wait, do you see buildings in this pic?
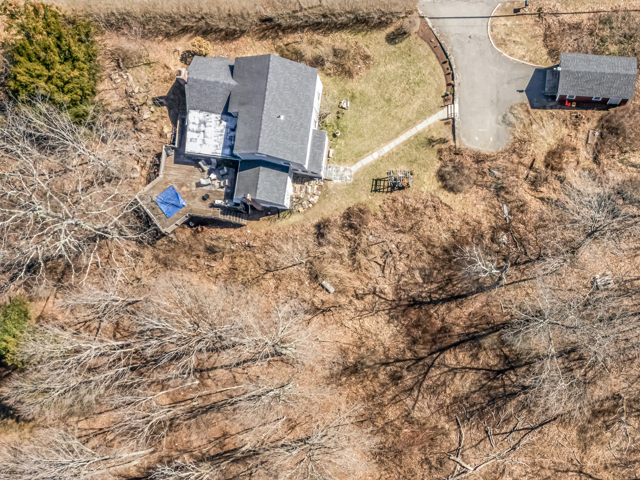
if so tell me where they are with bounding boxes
[175,51,329,213]
[541,53,640,109]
